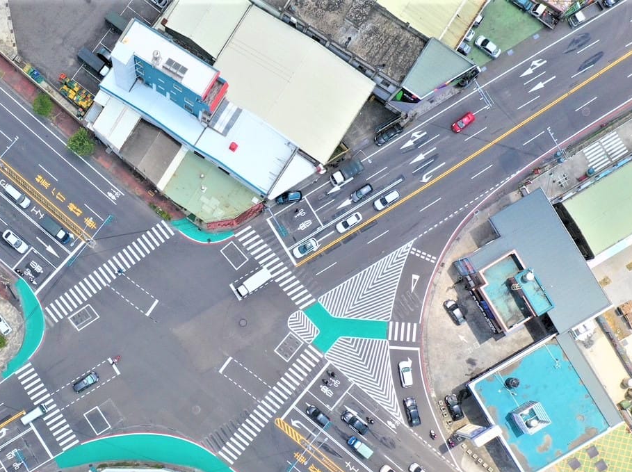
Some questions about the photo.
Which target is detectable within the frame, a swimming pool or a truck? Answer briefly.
truck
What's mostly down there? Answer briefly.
paved ground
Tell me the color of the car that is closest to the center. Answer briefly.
white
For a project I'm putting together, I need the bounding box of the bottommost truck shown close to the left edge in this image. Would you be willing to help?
[19,401,55,428]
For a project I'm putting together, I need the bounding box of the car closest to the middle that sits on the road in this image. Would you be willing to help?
[290,236,320,259]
